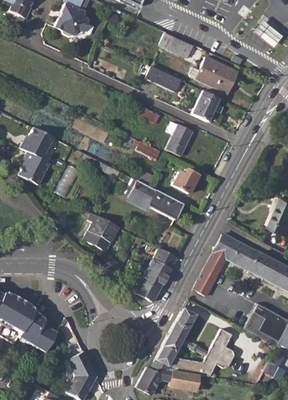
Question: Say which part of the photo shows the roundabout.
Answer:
bottom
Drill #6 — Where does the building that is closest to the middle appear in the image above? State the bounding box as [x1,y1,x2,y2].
[126,178,184,220]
